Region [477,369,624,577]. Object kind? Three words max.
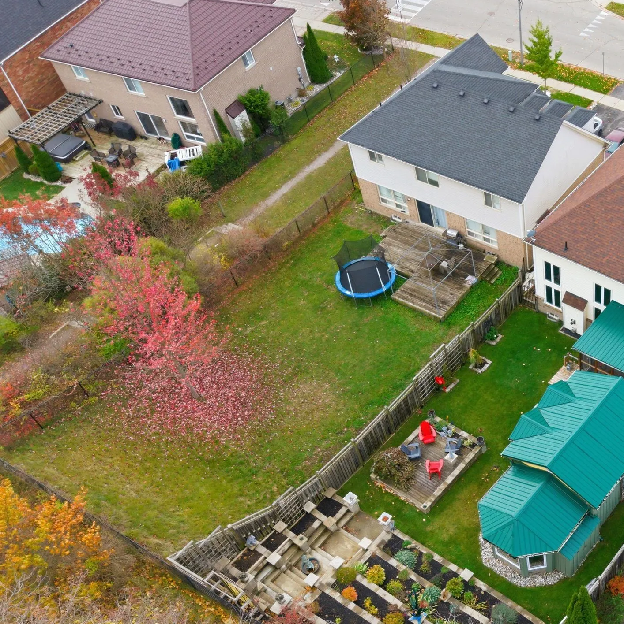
building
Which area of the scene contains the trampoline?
center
